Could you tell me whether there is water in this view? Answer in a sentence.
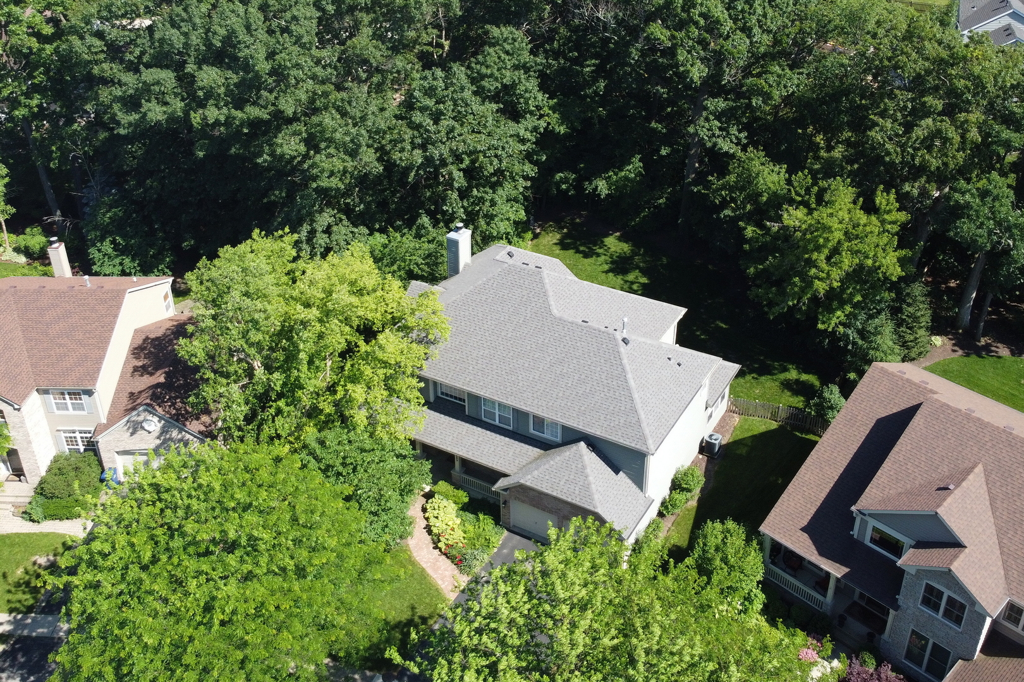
No, there's no water in this view.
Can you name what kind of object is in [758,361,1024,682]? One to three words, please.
house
